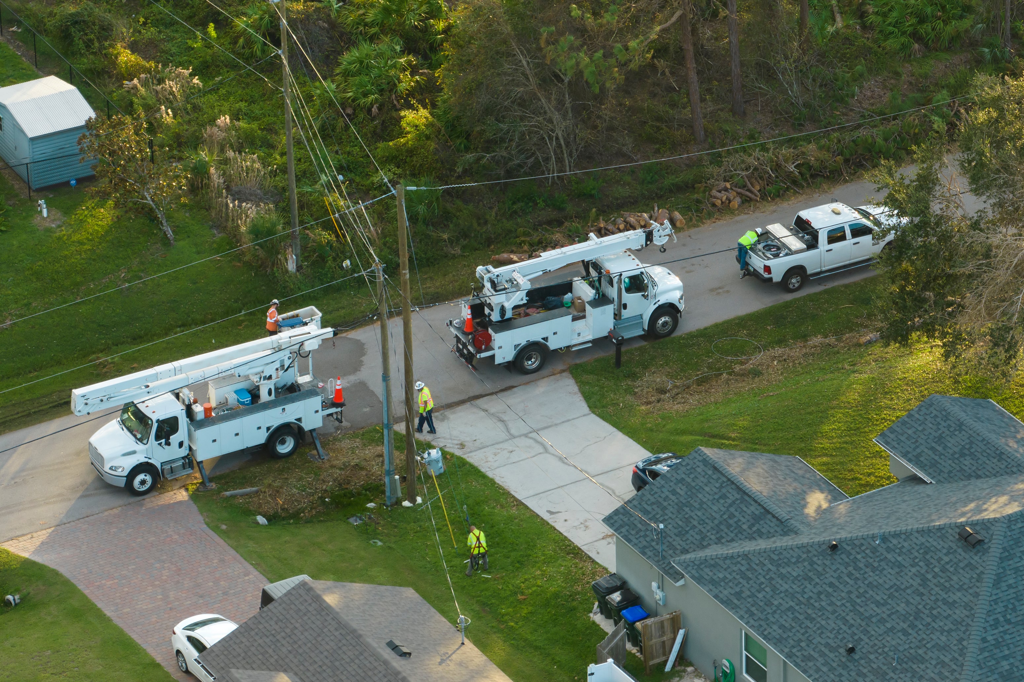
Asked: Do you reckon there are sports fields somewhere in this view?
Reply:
No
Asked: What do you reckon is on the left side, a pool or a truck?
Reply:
truck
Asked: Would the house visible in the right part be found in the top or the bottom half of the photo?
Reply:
bottom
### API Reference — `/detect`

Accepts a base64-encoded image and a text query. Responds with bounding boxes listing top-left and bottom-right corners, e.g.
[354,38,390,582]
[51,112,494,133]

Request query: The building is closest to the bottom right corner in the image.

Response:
[600,392,1024,682]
